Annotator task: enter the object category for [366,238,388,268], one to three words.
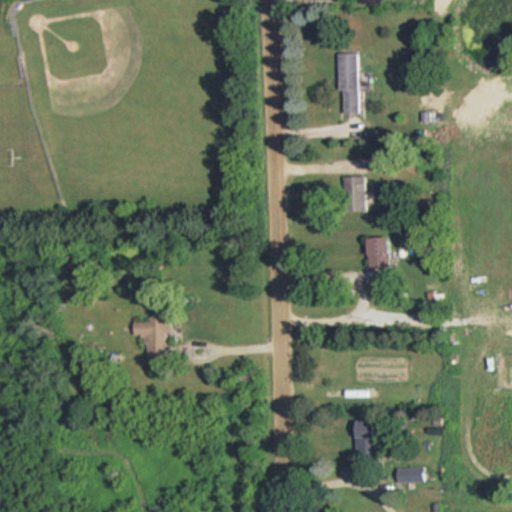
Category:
house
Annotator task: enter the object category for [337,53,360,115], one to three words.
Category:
house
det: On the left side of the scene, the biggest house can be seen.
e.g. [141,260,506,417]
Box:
[131,318,171,353]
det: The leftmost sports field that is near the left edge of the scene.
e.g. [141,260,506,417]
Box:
[0,36,60,216]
